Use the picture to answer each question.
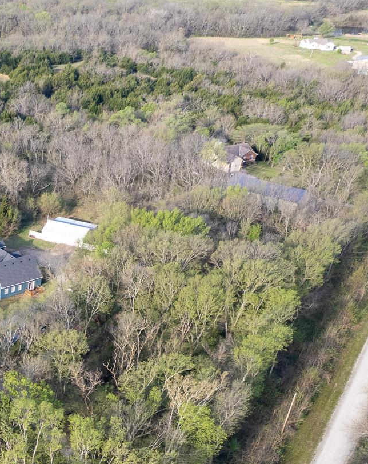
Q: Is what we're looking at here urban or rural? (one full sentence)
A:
It looks rural.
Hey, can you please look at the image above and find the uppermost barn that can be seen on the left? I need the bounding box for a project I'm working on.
[40,211,93,247]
